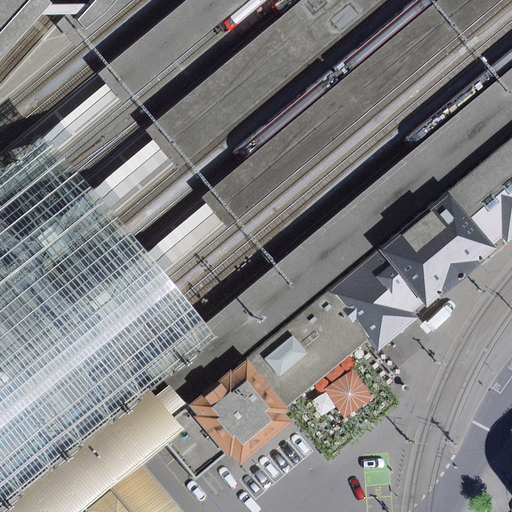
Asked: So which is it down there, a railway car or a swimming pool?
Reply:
railway car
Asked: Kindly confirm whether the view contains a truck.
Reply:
Yes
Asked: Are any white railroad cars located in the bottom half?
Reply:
No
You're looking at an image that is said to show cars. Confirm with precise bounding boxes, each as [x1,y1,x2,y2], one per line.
[348,476,366,502]
[185,478,208,504]
[362,458,386,470]
[242,473,264,498]
[278,439,303,466]
[249,464,274,492]
[269,448,294,476]
[216,466,239,491]
[258,454,282,480]
[290,431,314,458]
[238,489,263,512]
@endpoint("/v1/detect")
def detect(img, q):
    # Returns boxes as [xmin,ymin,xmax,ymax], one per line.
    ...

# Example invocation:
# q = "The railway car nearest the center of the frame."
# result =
[236,66,345,160]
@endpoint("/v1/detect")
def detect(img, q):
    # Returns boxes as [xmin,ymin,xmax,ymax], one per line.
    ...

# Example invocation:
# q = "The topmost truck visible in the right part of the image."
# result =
[418,298,459,336]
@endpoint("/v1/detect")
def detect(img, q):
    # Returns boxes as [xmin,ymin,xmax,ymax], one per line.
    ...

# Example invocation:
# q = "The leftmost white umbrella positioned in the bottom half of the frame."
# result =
[313,393,336,415]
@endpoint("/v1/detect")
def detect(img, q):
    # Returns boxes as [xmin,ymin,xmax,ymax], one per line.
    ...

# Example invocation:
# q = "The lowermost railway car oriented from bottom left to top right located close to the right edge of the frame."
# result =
[408,72,495,146]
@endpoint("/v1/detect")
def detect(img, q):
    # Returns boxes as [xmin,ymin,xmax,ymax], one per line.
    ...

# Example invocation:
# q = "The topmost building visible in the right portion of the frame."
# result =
[448,138,512,247]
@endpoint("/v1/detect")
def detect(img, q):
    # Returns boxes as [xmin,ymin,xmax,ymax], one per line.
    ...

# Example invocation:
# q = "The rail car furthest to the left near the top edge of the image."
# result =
[212,0,270,39]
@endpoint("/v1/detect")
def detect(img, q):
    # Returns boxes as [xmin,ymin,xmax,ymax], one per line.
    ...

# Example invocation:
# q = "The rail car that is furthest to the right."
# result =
[491,49,512,78]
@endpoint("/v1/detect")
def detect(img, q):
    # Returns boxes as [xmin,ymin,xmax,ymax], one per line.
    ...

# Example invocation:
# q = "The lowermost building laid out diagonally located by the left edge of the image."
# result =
[10,393,184,512]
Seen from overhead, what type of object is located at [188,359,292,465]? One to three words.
building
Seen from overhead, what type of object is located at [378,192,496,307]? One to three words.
building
